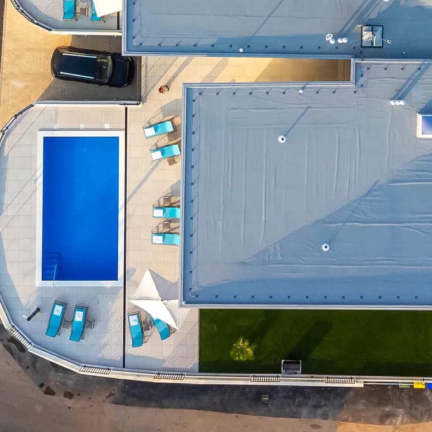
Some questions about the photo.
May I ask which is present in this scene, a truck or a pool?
pool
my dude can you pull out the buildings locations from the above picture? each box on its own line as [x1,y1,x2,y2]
[180,60,432,308]
[123,0,432,58]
